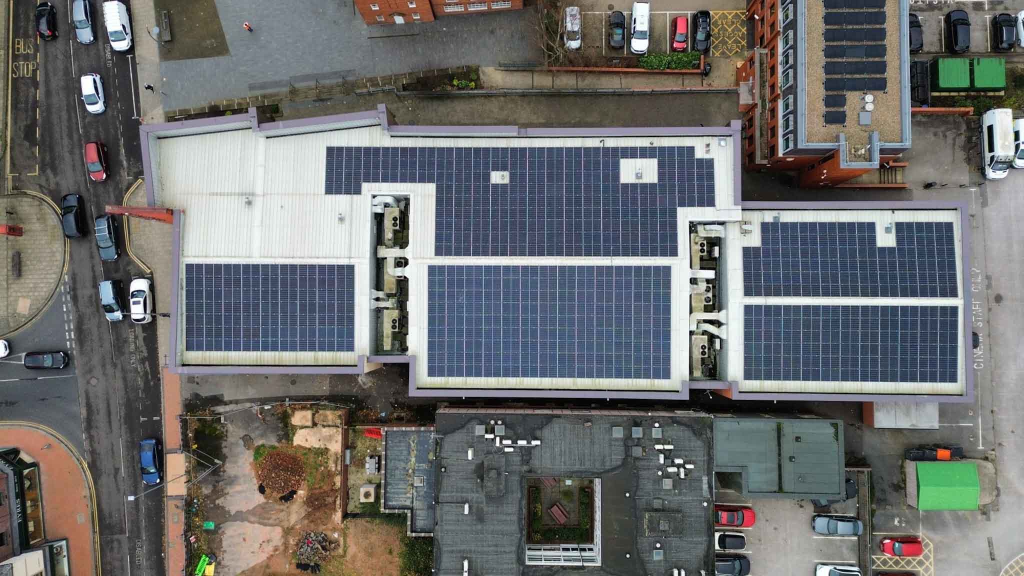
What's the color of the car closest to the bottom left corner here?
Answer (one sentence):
The car closest to the bottom left corner is blue.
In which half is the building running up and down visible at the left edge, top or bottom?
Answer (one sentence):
The building running up and down visible at the left edge is in the bottom half of the image.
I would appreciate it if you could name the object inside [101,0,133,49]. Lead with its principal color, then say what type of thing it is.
white van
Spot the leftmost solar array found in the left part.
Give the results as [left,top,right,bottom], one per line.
[186,264,355,352]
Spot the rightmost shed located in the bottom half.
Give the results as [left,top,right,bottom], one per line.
[908,460,979,510]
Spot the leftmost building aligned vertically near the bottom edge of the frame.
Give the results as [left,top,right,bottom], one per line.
[0,448,44,558]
